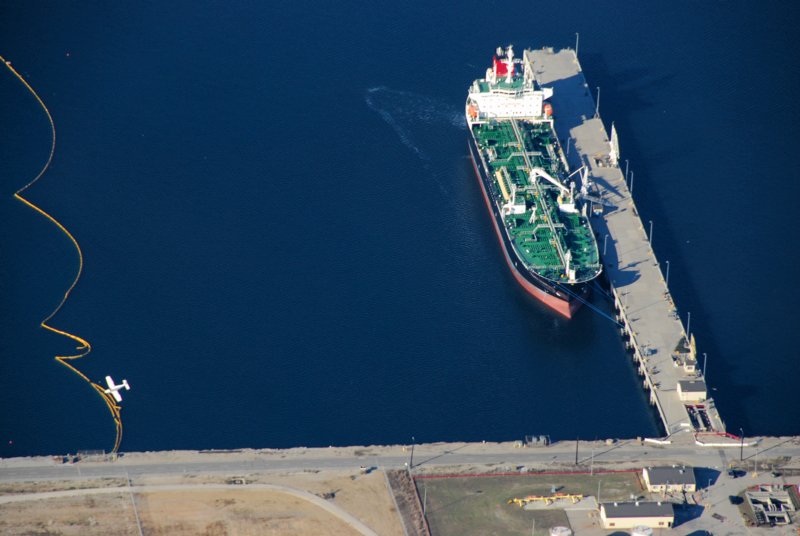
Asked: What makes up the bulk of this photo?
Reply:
water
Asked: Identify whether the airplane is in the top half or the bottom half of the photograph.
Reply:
bottom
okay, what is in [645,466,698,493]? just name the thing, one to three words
building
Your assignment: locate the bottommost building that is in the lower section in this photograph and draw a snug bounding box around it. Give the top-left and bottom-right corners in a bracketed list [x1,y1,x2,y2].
[599,500,675,531]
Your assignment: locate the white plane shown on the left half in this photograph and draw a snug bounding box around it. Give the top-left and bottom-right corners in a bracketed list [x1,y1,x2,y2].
[105,376,130,398]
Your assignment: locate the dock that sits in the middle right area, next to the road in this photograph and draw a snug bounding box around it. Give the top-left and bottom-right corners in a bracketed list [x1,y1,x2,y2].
[523,46,727,441]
